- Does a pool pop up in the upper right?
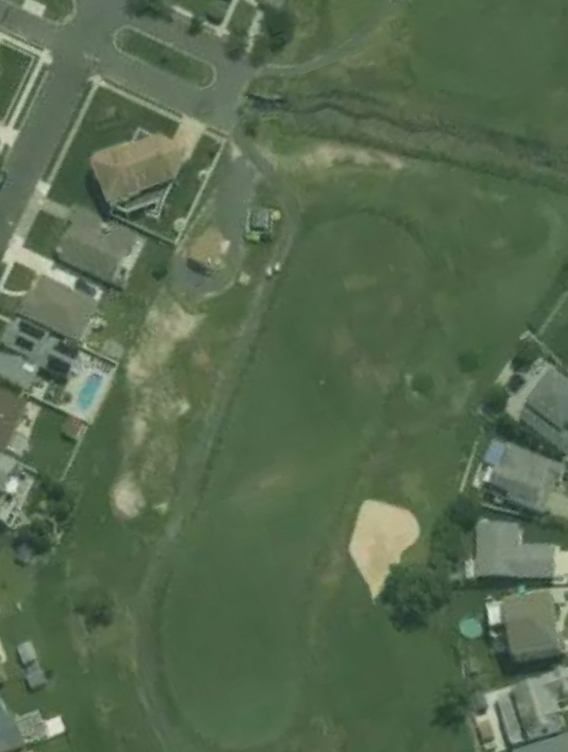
No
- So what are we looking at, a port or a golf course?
golf course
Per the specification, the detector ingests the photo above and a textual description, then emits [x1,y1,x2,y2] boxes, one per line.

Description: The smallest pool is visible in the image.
[459,615,483,639]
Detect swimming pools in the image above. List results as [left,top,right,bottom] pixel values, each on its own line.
[459,615,483,639]
[76,369,107,411]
